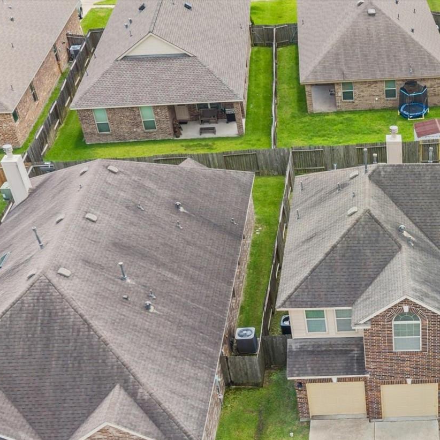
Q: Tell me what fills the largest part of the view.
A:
buildings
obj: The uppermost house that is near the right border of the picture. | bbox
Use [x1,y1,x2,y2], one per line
[298,0,440,112]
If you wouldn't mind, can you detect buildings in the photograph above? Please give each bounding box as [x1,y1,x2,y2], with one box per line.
[0,0,77,148]
[66,0,254,143]
[414,111,440,145]
[0,148,257,440]
[298,0,440,112]
[275,125,440,422]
